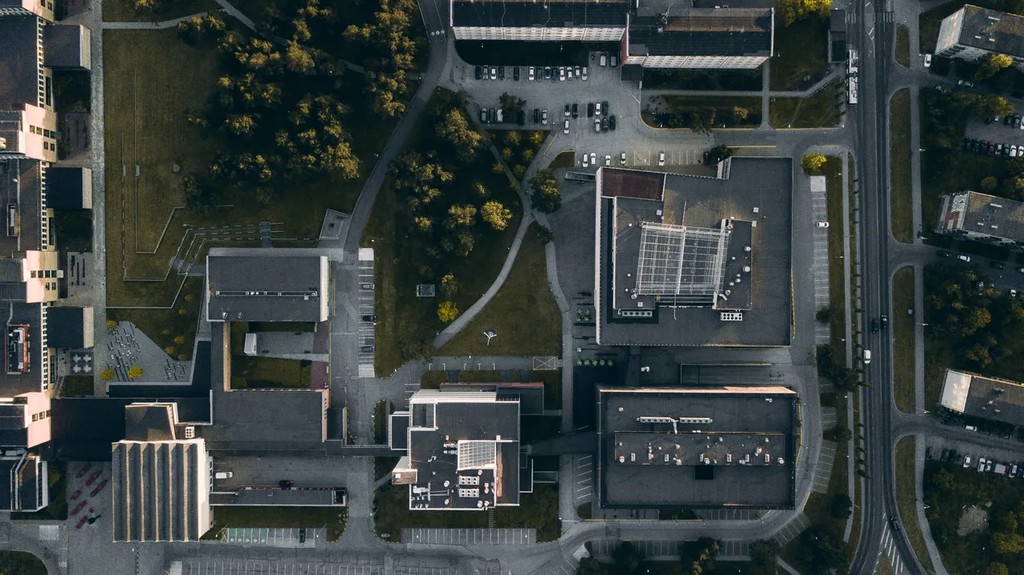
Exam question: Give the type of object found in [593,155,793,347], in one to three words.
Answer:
building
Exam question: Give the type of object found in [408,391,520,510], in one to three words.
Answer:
building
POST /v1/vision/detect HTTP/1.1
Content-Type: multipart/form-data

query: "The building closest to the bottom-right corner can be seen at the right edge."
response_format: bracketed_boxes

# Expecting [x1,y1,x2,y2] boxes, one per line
[941,371,1024,431]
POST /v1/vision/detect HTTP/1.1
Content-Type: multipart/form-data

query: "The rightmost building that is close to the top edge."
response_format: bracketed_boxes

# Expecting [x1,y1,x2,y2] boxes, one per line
[936,5,1024,79]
